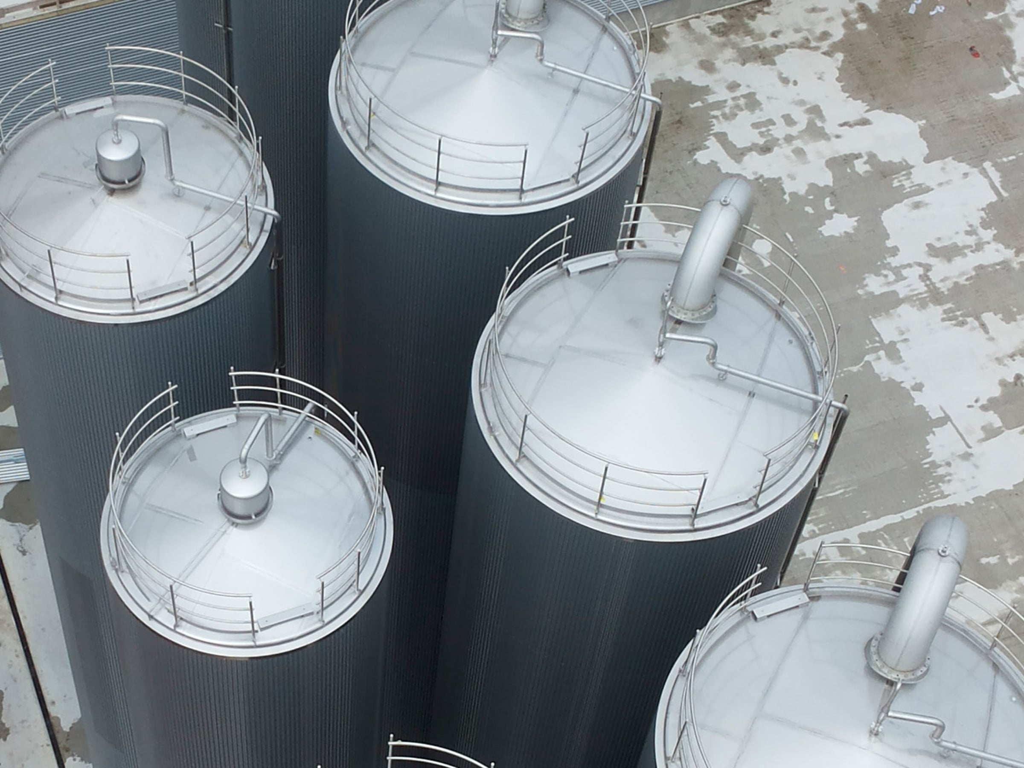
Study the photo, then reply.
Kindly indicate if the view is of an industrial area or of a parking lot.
industrial area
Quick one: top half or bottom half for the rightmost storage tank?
bottom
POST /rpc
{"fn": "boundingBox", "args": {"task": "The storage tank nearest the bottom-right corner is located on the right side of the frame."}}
[644,513,1024,768]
